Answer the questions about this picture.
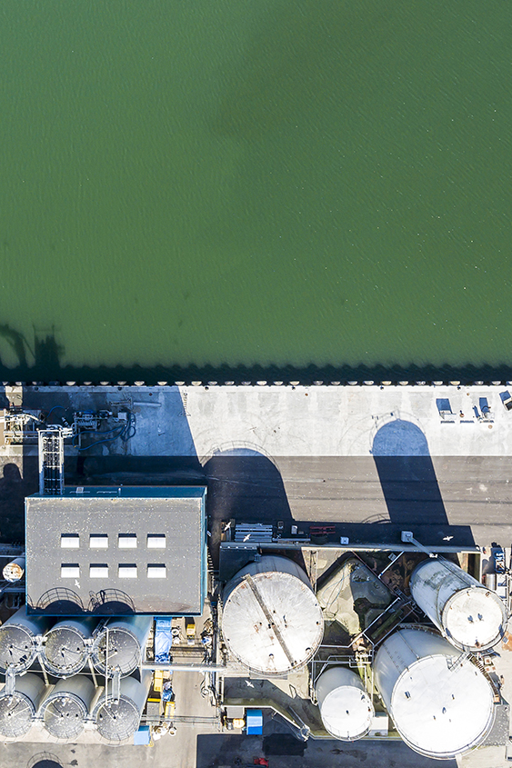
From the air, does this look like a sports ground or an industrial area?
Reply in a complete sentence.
This image shows an industrial area.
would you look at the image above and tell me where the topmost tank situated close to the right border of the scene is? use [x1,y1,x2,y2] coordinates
[413,559,511,654]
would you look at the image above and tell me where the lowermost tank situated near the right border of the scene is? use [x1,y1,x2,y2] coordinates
[371,623,498,760]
